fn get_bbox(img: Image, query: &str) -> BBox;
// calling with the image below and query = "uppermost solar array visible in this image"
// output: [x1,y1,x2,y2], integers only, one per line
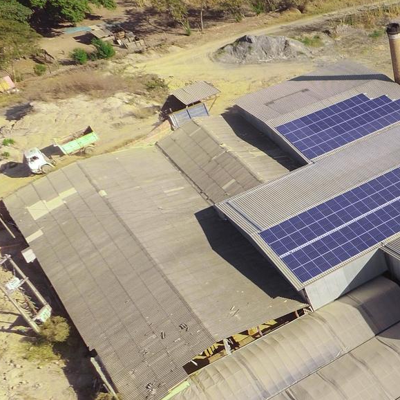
[277,94,400,159]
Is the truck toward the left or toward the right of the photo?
left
